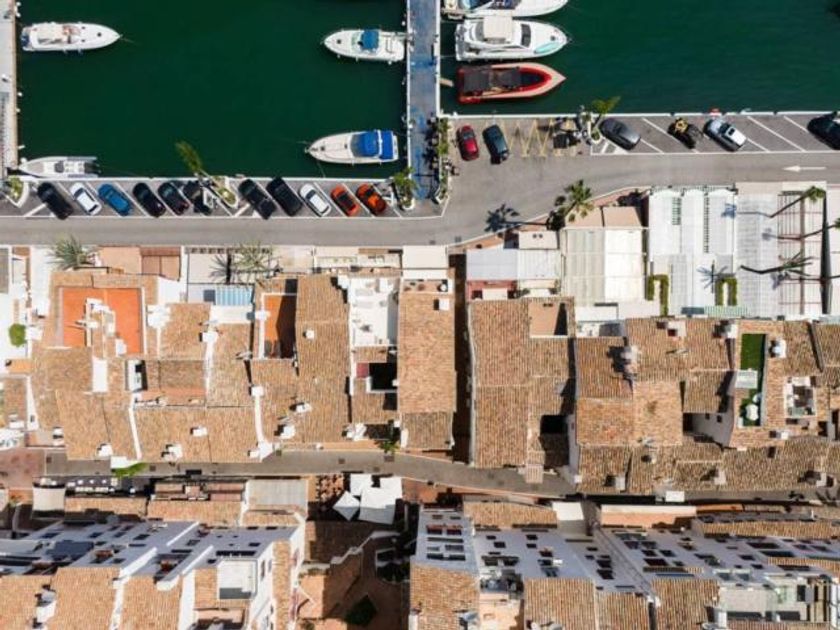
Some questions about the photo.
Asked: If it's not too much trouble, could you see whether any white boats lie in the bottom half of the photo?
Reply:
No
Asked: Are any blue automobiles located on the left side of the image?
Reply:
Yes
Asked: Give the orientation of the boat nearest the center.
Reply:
horizontally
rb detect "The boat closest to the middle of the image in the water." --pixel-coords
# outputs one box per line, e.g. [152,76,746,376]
[303,130,402,168]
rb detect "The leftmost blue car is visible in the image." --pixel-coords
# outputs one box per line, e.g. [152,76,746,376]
[101,184,133,217]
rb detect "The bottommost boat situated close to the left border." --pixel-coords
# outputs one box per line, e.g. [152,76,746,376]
[21,156,102,177]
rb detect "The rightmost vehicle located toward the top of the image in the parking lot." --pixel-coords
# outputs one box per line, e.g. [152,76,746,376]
[809,116,840,147]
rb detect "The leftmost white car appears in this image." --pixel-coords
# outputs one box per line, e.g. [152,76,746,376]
[73,185,102,215]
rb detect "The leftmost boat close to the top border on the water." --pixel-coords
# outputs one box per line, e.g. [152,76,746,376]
[24,21,122,56]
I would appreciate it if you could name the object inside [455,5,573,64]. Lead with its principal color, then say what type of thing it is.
white boat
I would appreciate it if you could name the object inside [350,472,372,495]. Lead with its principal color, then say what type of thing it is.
white umbrella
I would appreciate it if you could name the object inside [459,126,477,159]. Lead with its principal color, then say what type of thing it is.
red car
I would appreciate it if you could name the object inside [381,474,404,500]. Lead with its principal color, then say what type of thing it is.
white umbrella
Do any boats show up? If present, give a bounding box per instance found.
[303,130,402,168]
[21,156,102,177]
[458,65,566,100]
[441,0,564,18]
[455,5,573,64]
[320,25,406,66]
[24,21,122,56]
